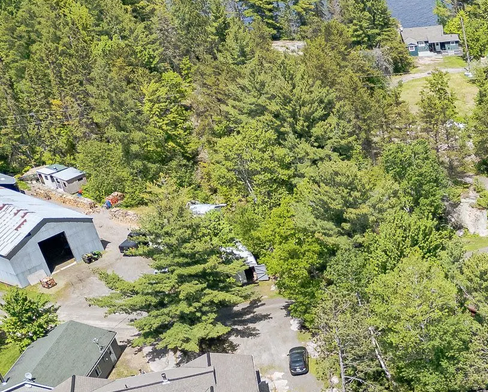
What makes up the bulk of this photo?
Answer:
trees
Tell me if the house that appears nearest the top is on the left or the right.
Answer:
right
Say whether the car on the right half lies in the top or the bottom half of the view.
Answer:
bottom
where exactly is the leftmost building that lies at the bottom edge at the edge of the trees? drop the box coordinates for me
[0,322,119,392]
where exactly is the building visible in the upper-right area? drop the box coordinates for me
[404,25,472,58]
